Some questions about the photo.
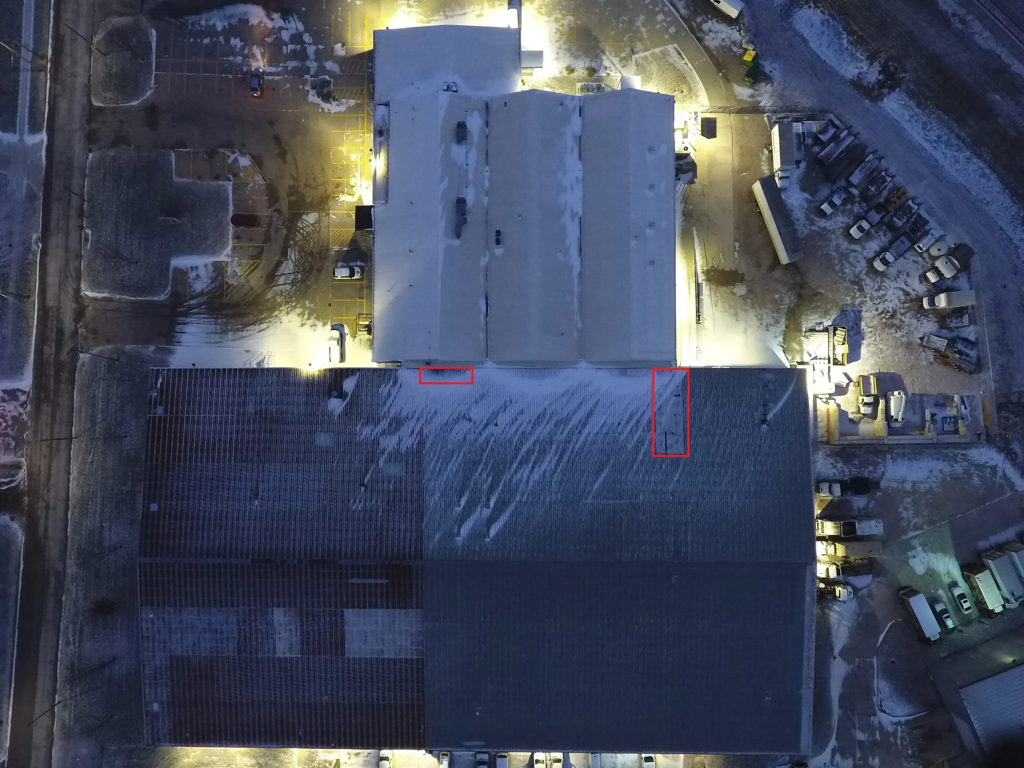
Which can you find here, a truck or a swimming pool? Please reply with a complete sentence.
The image shows a truck.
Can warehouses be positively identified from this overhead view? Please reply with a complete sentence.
Yes, I can see a warehouse in this picture.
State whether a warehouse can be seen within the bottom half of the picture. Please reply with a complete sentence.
Yes, looking within the bottom half of the picture, one can make out a warehouse.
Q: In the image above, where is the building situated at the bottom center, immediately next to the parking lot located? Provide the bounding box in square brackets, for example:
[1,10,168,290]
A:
[137,366,817,757]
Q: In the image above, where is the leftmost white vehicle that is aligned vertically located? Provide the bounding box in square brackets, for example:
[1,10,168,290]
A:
[329,329,343,363]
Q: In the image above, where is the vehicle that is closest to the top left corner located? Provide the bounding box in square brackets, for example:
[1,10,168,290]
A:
[248,69,263,99]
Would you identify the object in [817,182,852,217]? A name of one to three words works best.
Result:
truck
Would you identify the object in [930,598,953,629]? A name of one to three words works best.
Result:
car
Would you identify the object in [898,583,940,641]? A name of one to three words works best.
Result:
vehicle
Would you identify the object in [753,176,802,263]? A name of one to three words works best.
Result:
trailer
